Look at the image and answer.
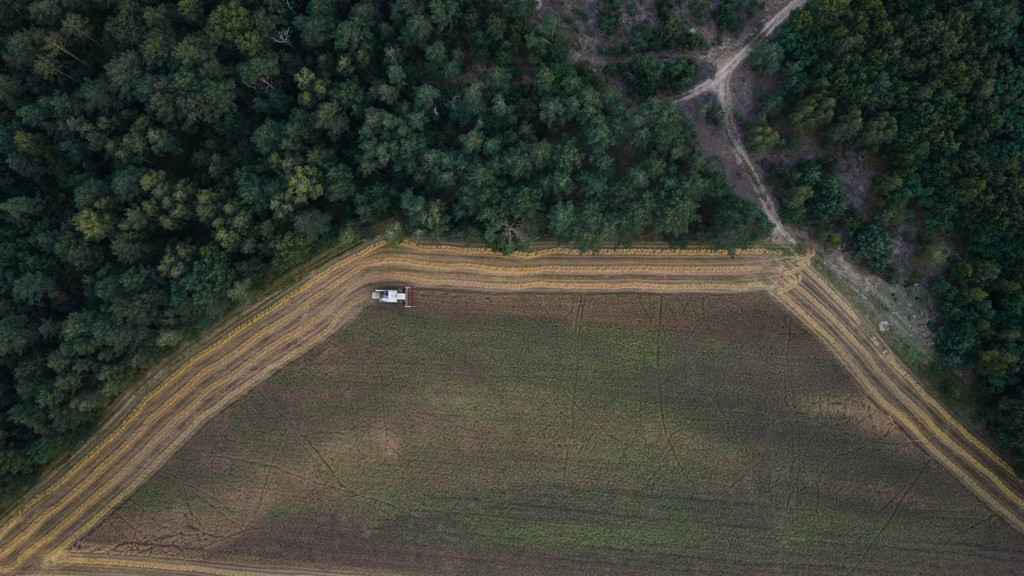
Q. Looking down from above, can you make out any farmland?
Yes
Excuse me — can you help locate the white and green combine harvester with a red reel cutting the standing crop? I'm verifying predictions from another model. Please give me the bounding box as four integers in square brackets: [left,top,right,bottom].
[371,287,412,307]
